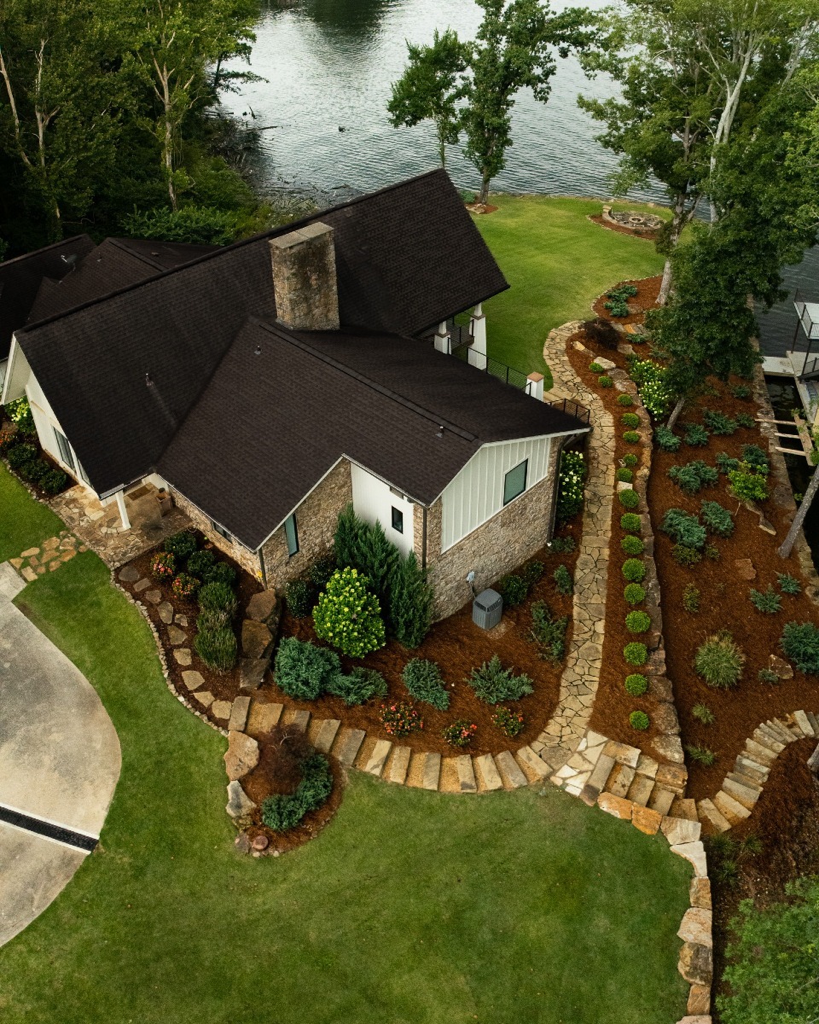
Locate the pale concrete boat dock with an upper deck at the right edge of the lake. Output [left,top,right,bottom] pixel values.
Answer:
[764,287,819,453]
